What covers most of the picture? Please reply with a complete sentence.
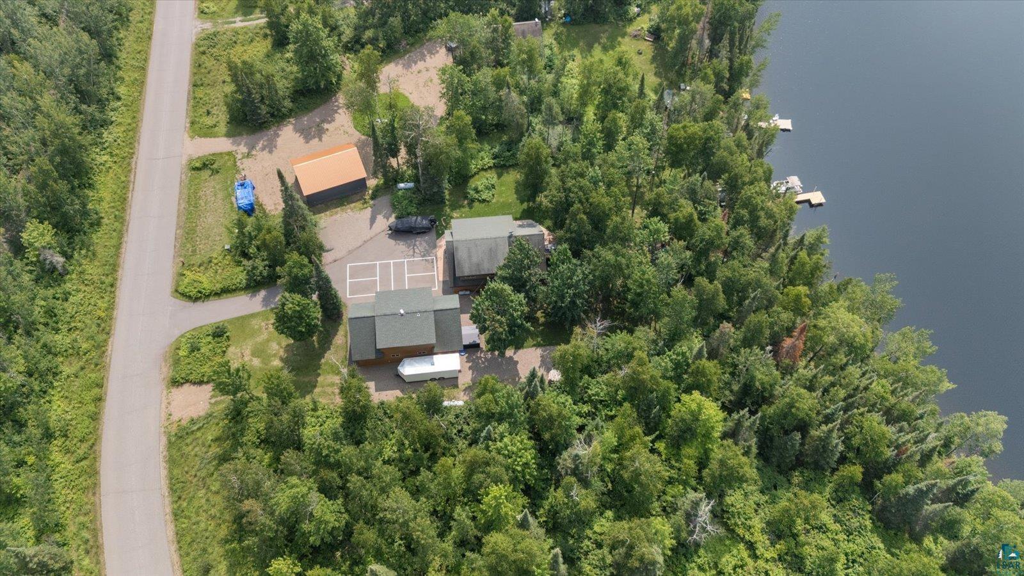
The bulk of the photo consists of trees.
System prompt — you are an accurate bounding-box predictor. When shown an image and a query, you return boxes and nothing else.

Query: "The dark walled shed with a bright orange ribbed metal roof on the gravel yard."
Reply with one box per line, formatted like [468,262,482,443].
[291,141,367,204]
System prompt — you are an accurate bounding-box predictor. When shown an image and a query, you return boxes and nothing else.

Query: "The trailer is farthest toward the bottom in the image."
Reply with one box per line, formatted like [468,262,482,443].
[393,354,464,382]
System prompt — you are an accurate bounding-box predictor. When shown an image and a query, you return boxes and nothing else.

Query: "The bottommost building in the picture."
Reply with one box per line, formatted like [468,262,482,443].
[349,288,464,366]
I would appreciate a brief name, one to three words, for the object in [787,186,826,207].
pier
